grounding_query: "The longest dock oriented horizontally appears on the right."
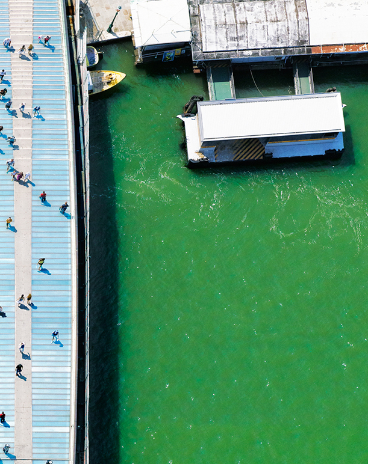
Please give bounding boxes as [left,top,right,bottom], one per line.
[176,88,350,166]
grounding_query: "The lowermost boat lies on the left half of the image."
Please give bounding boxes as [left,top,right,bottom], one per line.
[85,69,127,95]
